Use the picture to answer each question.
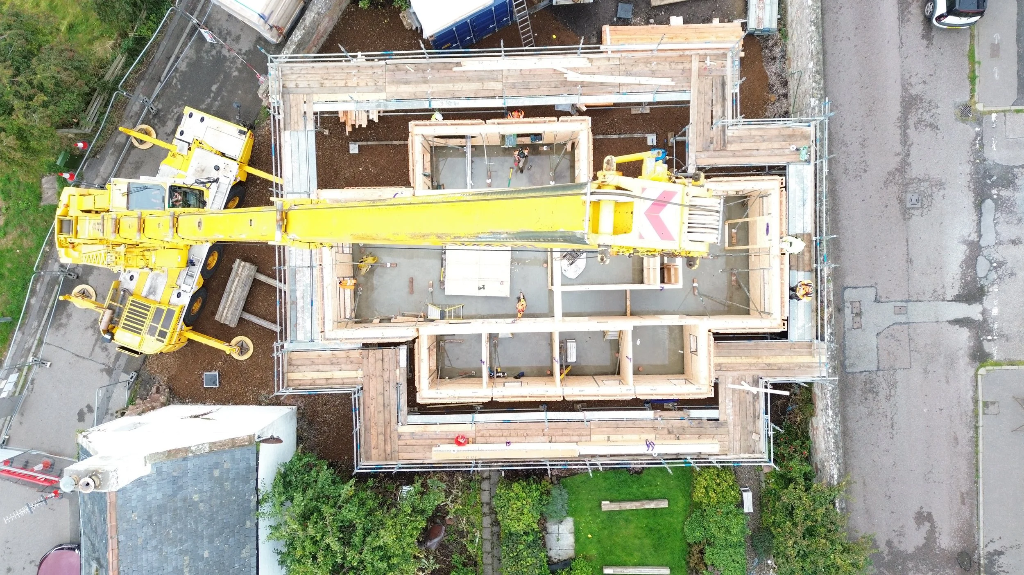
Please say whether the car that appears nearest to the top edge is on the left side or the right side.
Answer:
right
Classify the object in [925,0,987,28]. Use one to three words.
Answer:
car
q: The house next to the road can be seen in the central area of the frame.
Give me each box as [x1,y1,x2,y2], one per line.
[319,117,784,401]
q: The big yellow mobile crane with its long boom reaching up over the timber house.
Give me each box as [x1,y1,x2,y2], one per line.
[55,102,727,358]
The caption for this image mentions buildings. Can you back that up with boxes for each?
[51,404,300,575]
[319,117,784,401]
